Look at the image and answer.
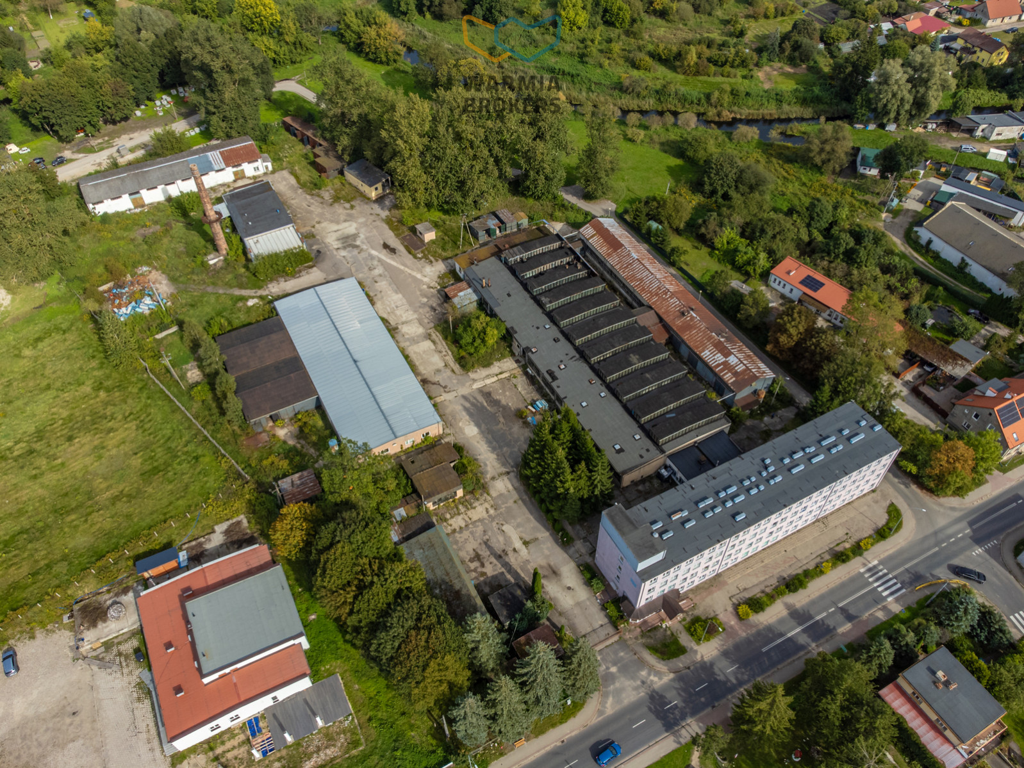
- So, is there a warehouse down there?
Yes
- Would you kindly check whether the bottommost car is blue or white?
blue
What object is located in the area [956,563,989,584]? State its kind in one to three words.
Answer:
car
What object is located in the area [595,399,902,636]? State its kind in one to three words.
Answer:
building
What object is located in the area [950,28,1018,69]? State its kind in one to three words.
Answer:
house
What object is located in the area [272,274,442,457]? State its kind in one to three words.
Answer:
warehouse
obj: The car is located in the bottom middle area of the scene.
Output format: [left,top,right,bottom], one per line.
[596,738,624,768]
